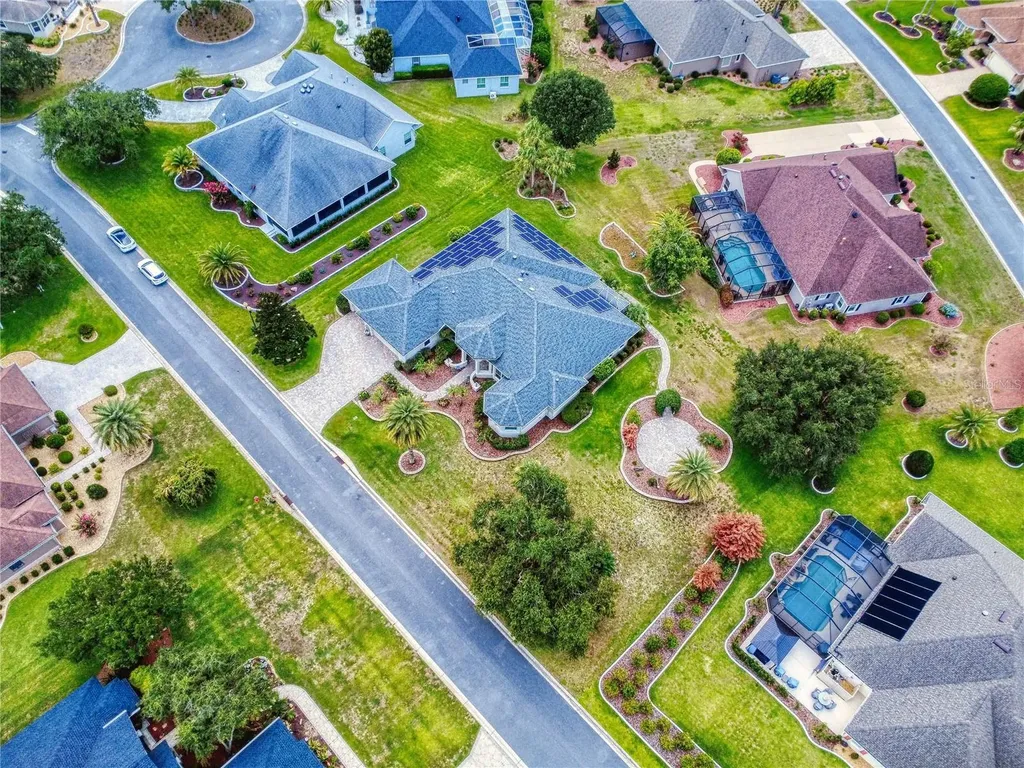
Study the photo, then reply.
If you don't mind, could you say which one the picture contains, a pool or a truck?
pool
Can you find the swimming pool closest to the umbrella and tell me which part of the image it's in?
bottom right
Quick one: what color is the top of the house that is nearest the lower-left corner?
blue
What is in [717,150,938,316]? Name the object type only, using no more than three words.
house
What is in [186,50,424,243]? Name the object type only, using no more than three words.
house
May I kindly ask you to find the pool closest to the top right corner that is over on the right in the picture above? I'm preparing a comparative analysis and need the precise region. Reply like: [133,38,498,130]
[715,234,769,293]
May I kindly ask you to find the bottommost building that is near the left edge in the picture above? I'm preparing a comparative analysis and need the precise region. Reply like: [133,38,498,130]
[0,676,189,768]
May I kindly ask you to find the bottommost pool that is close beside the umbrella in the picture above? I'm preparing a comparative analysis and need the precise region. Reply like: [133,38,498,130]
[780,552,848,633]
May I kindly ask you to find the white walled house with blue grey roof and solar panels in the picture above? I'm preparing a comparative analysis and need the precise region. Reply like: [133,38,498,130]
[339,208,641,436]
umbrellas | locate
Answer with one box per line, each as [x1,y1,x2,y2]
[751,614,800,668]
